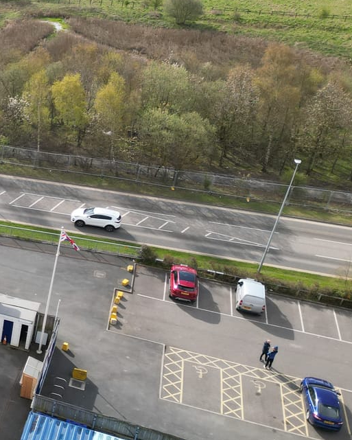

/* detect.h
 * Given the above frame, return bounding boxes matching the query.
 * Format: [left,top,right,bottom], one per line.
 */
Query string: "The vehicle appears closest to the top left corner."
[76,206,127,230]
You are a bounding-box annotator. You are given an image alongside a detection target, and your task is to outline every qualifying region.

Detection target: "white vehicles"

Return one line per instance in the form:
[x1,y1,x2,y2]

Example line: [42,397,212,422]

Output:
[76,206,127,230]
[237,279,273,318]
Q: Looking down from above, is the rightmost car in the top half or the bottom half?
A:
bottom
